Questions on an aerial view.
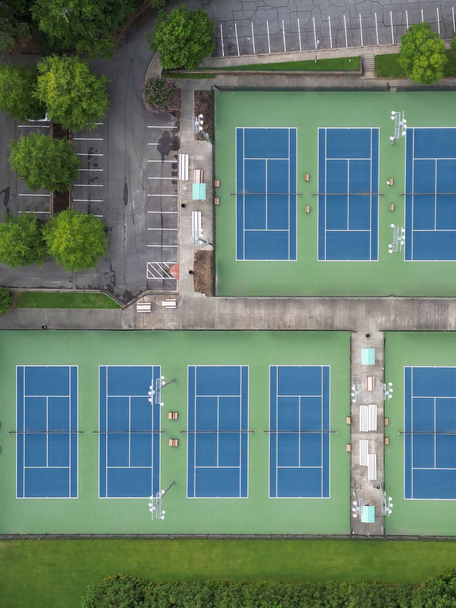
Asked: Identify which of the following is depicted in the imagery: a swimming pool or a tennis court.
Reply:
tennis court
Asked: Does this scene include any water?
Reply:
No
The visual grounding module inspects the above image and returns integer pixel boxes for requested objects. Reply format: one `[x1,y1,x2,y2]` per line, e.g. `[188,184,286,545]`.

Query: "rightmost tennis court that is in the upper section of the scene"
[399,127,456,261]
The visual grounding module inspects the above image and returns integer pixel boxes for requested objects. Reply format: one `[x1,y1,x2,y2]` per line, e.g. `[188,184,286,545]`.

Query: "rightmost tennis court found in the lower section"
[397,366,456,500]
